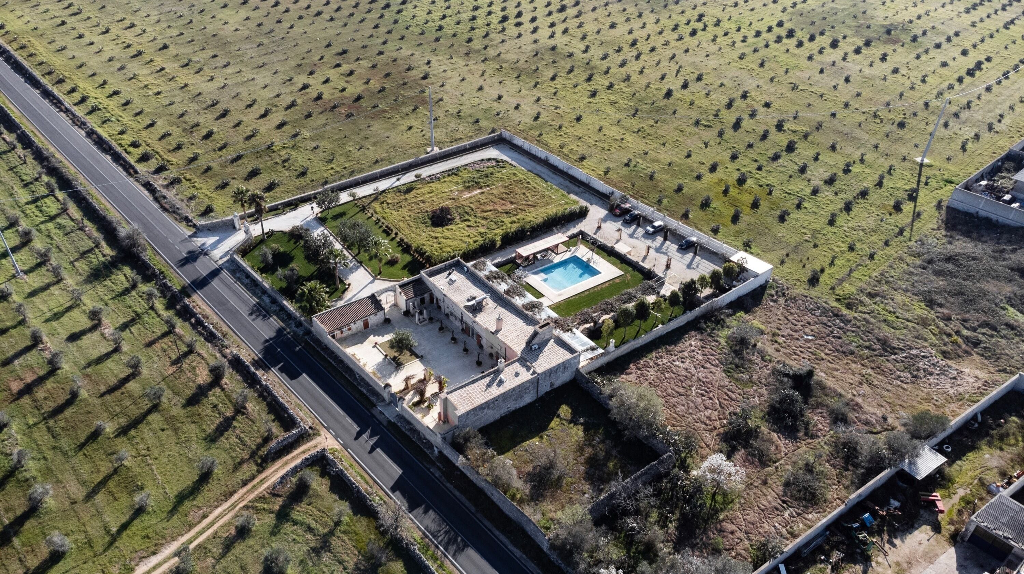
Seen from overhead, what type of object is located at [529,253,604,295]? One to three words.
swimming pool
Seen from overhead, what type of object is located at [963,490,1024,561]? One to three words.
barn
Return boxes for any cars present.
[613,204,631,215]
[678,237,698,250]
[647,221,666,234]
[625,211,644,223]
